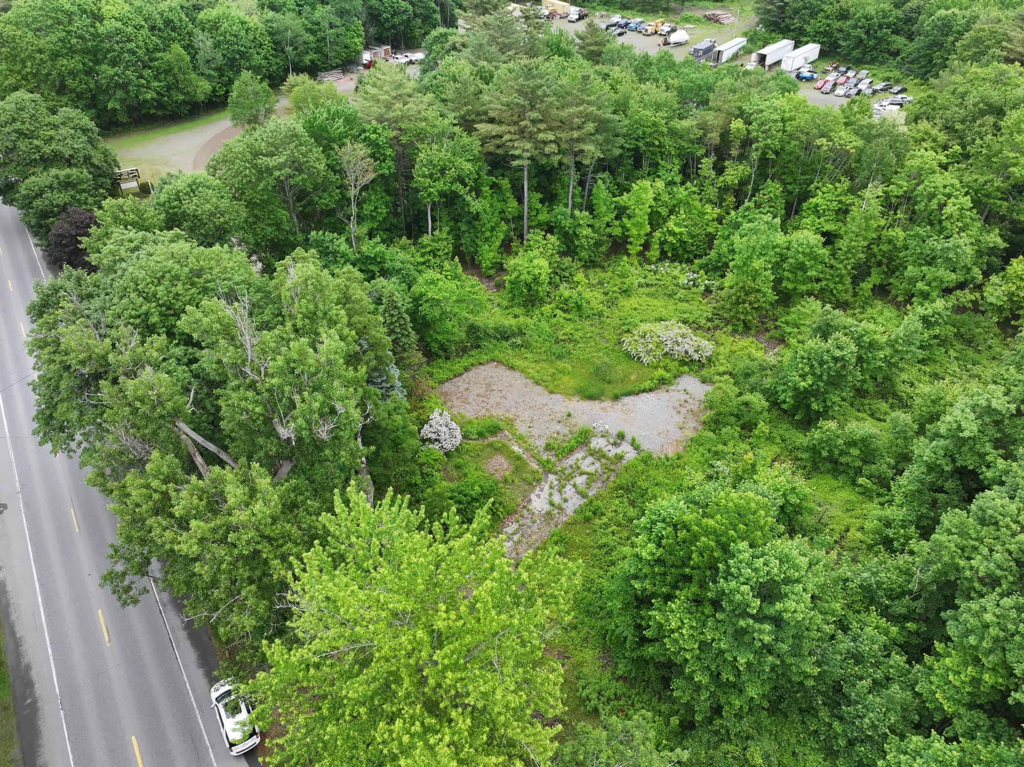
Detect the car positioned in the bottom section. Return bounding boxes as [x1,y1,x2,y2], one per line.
[213,689,265,758]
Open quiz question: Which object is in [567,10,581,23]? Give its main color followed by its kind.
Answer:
white vehicle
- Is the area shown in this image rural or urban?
rural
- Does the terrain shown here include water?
No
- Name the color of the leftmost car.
white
